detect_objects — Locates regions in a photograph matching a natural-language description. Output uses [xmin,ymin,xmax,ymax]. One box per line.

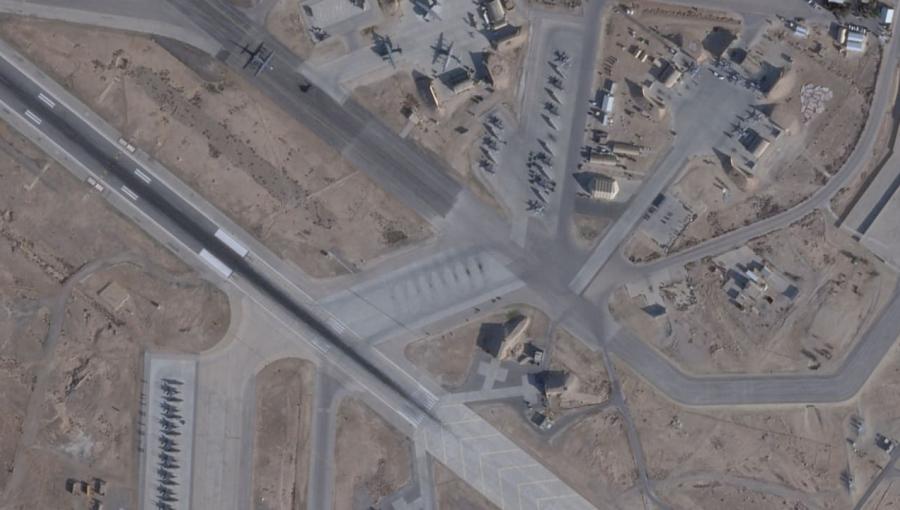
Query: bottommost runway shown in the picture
[231,253,434,426]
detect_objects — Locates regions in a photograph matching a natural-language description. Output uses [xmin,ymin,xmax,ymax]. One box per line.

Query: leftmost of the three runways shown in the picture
[0,53,257,285]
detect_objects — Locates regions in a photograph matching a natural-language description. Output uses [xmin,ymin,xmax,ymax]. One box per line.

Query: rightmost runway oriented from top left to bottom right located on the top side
[150,0,465,219]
